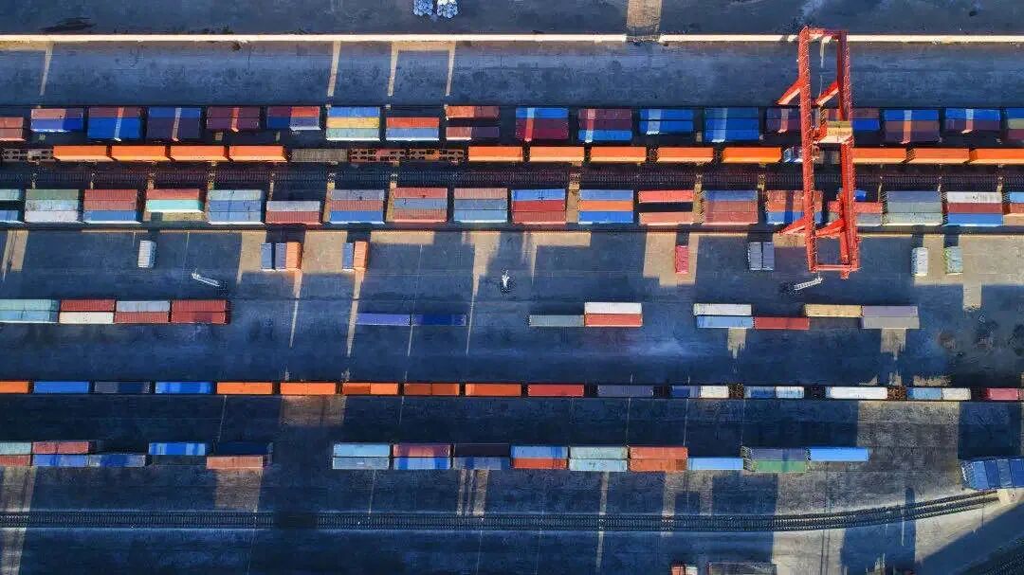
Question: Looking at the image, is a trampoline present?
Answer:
No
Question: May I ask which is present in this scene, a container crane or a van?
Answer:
container crane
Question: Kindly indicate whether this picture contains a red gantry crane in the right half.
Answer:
Yes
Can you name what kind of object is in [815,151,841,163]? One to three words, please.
rail car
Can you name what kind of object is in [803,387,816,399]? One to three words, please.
rail car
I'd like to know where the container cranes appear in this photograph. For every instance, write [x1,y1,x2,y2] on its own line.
[774,24,862,280]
